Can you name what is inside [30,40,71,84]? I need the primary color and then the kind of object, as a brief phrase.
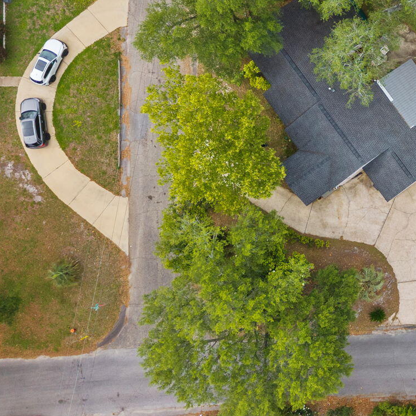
white car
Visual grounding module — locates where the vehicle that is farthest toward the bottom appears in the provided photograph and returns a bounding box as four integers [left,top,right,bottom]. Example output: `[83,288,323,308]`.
[22,99,52,148]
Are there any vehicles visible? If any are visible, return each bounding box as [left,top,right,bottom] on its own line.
[30,40,71,84]
[22,99,52,148]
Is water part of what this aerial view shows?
No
